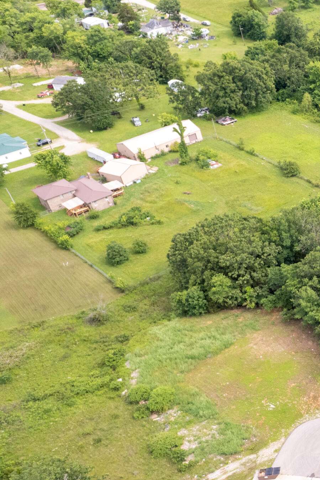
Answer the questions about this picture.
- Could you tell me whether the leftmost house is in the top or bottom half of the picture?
top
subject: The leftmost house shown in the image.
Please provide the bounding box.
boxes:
[0,133,34,163]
